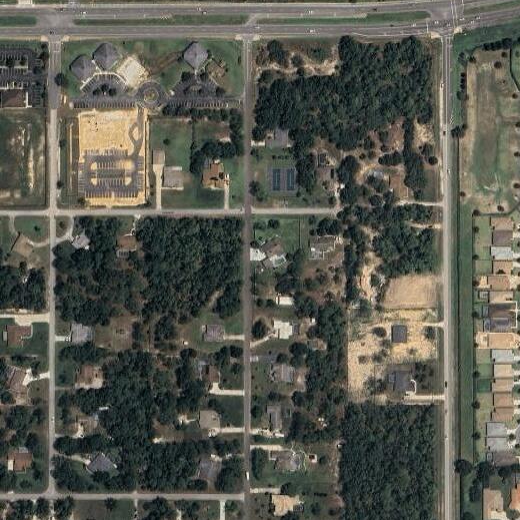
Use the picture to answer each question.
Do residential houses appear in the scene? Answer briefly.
Yes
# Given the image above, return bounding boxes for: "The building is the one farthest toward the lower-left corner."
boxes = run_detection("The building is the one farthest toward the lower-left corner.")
[10,449,29,472]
